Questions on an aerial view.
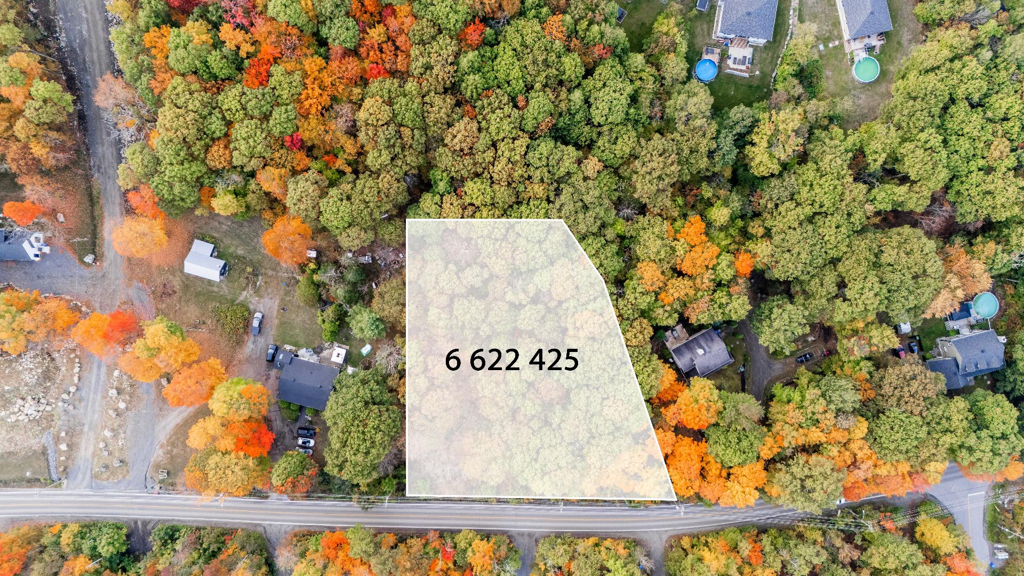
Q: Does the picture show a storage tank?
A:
No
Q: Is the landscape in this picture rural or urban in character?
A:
rural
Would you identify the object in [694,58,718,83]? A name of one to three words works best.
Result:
swimming pool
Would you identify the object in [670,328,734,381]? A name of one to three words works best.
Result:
house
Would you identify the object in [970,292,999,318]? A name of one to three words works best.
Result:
swimming pool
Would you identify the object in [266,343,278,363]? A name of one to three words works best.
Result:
vehicle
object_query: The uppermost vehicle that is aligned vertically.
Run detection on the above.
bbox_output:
[251,313,264,335]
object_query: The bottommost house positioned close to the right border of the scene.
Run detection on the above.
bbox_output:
[922,329,1017,391]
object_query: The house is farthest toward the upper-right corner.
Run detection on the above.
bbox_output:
[835,0,893,41]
